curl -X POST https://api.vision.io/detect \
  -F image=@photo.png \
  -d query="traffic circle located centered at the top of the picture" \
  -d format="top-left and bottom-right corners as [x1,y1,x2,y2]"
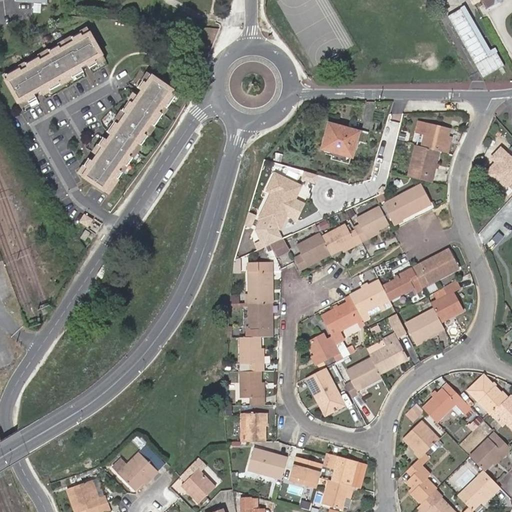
[224,56,283,114]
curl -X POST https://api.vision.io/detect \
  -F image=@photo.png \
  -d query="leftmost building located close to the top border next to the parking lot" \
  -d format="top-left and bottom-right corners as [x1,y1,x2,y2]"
[3,24,104,104]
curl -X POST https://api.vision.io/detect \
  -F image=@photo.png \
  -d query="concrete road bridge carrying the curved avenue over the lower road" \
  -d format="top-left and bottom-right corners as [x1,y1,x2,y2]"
[0,428,32,472]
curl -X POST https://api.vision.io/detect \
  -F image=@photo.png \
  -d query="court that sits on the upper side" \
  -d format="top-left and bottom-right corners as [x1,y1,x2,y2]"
[277,0,344,66]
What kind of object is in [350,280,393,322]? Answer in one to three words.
house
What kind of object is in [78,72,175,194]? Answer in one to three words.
building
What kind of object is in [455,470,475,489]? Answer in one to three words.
swimming pool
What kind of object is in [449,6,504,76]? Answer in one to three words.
shed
